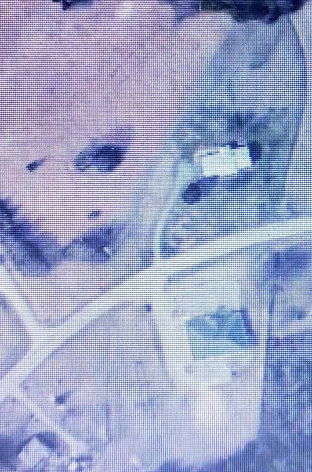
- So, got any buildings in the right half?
Yes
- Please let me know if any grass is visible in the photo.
Yes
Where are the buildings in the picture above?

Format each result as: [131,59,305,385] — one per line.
[19,437,51,470]
[186,311,253,361]
[199,147,254,176]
